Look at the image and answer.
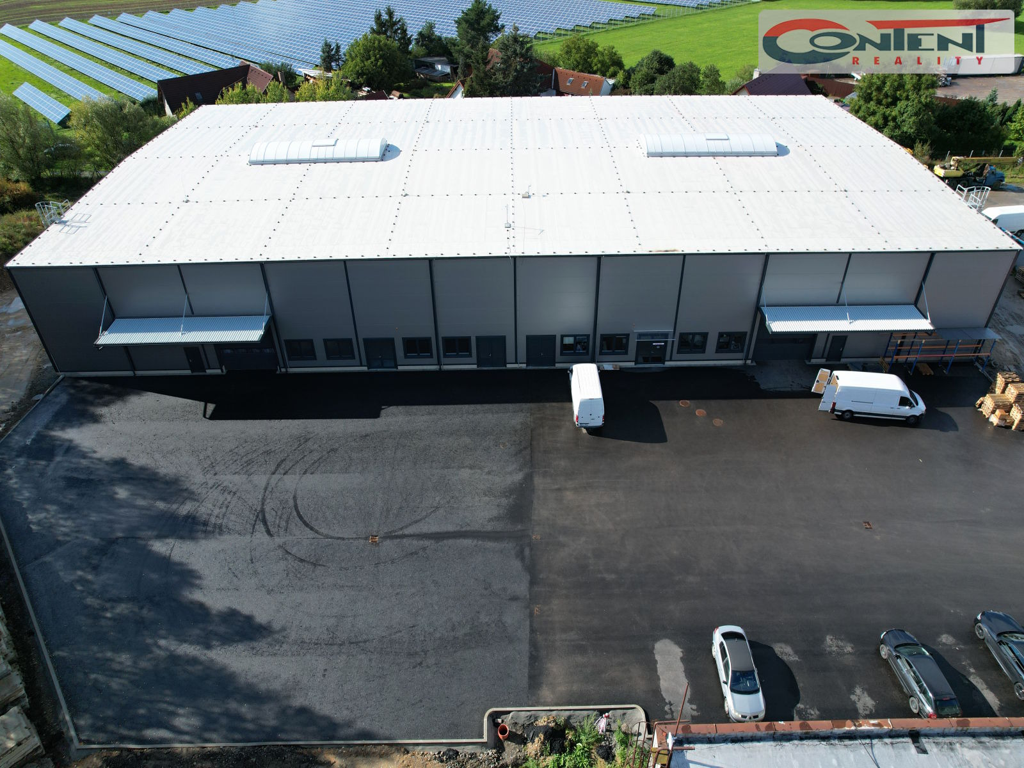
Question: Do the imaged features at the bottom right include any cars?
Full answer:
Yes, there is a car at the bottom right.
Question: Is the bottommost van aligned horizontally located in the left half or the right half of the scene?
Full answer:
You can find the bottommost van aligned horizontally on the right side of the picture.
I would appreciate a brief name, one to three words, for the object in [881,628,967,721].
car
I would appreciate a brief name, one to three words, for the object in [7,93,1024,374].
warehouse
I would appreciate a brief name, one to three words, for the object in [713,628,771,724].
car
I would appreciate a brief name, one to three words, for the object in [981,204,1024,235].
van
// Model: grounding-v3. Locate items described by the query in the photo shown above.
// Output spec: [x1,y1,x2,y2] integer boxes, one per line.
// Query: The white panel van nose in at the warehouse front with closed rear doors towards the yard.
[567,365,605,425]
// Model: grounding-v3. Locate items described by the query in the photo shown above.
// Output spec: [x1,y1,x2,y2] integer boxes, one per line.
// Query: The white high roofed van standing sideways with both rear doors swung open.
[816,374,928,424]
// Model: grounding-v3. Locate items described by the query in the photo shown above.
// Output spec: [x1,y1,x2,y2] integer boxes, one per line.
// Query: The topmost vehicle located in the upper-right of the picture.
[927,157,1024,192]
